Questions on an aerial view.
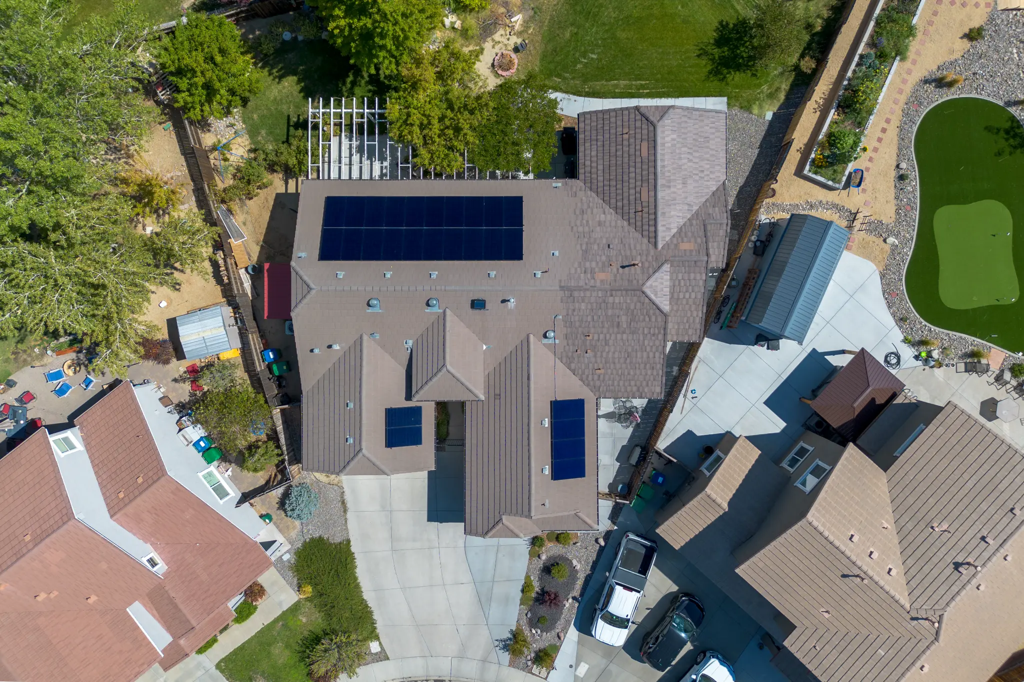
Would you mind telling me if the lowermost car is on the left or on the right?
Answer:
right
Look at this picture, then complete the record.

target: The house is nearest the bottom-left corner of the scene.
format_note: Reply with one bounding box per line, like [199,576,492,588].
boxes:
[0,379,276,682]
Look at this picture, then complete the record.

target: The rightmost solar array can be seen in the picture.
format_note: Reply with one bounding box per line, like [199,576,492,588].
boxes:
[551,399,586,481]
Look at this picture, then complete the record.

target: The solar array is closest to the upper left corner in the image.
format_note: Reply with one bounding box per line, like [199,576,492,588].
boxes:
[318,196,524,260]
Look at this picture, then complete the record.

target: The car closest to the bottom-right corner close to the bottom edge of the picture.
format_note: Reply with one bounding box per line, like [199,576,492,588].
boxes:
[677,649,731,682]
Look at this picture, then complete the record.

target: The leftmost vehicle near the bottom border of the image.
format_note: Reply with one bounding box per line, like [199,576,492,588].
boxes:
[595,528,661,649]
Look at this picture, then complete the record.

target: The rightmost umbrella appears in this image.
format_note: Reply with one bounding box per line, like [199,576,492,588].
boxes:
[992,401,1015,424]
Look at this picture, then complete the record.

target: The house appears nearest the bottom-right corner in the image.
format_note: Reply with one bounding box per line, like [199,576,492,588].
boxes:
[653,391,1024,682]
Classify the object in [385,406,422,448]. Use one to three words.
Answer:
solar array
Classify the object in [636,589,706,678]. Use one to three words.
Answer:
car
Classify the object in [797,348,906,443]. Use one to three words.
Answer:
gazebo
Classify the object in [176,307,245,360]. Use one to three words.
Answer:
shed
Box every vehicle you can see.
[677,649,731,682]
[595,528,661,649]
[636,589,706,678]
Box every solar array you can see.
[318,196,524,260]
[385,406,422,448]
[551,399,586,481]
